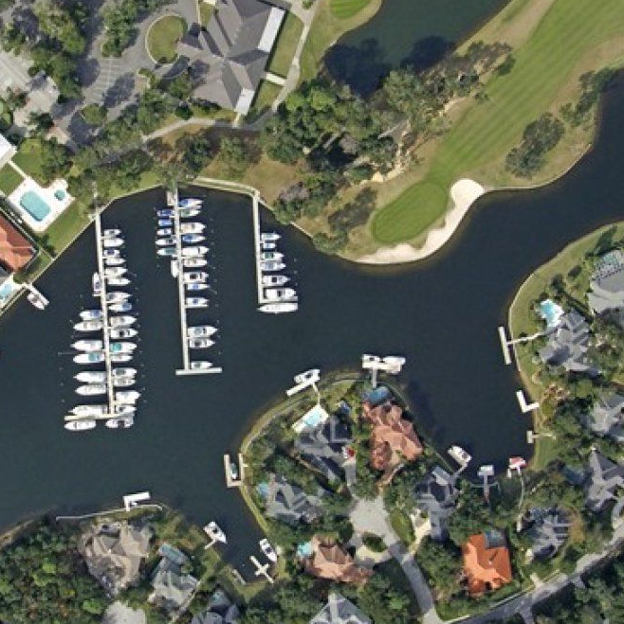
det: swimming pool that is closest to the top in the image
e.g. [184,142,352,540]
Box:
[8,177,75,232]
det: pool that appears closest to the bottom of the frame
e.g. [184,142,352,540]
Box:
[210,590,229,605]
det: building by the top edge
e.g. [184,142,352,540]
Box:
[177,0,285,125]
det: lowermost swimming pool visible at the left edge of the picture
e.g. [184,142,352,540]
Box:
[0,274,23,308]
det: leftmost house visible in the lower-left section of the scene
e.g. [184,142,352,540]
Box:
[88,519,148,592]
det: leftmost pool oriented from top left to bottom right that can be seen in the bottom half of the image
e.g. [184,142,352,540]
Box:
[160,543,190,568]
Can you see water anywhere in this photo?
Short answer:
Yes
